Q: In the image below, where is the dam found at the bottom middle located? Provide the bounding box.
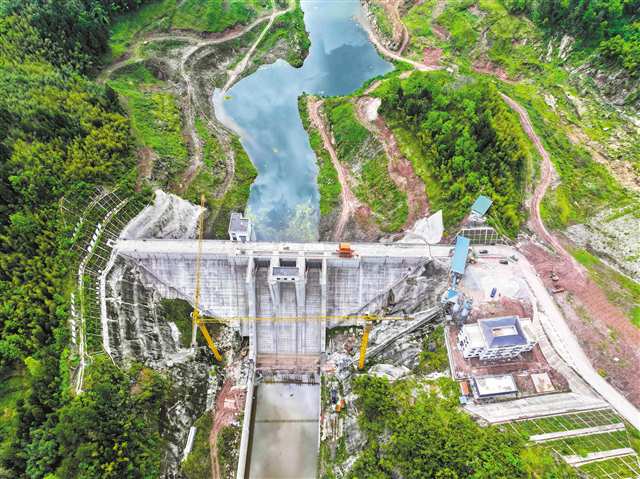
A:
[107,239,452,479]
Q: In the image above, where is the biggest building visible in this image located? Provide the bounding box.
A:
[460,316,536,356]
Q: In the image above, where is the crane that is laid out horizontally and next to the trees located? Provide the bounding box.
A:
[206,311,411,373]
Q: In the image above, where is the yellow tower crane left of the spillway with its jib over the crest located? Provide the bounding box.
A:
[193,194,227,366]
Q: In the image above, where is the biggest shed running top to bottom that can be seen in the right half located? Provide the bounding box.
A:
[450,235,468,281]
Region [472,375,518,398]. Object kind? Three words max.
building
